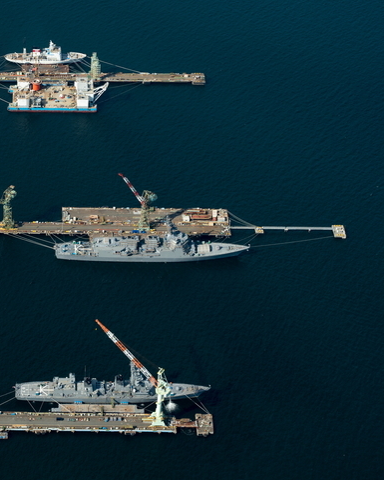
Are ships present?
Yes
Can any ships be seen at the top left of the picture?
Yes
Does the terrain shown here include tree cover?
No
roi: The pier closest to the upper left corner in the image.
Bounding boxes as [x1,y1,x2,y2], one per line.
[0,70,205,87]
